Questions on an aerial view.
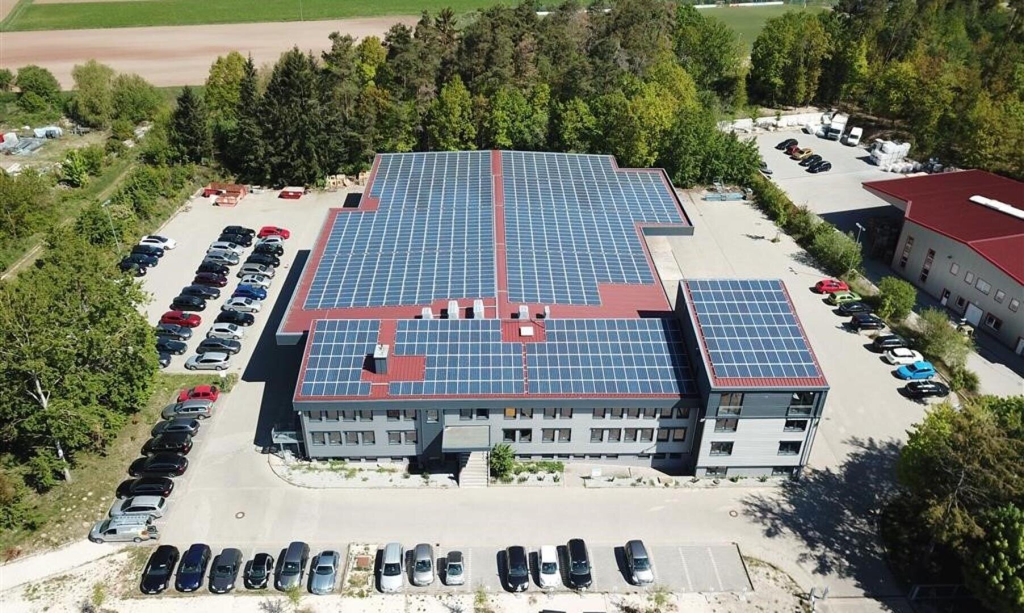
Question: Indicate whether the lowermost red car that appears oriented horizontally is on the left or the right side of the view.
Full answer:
It is on the left.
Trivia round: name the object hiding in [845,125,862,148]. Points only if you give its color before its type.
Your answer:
white vehicle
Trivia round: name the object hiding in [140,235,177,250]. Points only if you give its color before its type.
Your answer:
white car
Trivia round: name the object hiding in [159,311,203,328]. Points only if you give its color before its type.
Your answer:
red car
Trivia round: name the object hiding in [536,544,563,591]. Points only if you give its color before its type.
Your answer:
white car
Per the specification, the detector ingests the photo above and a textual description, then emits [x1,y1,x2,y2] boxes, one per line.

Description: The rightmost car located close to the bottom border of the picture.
[623,536,657,590]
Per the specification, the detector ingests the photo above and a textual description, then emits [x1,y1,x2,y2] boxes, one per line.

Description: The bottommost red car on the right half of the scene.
[814,279,850,295]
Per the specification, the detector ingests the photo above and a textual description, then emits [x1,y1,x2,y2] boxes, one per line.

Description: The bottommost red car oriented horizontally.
[177,383,221,403]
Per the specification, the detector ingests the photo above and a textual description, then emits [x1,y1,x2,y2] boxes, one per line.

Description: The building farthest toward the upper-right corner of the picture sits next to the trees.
[860,157,1024,353]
